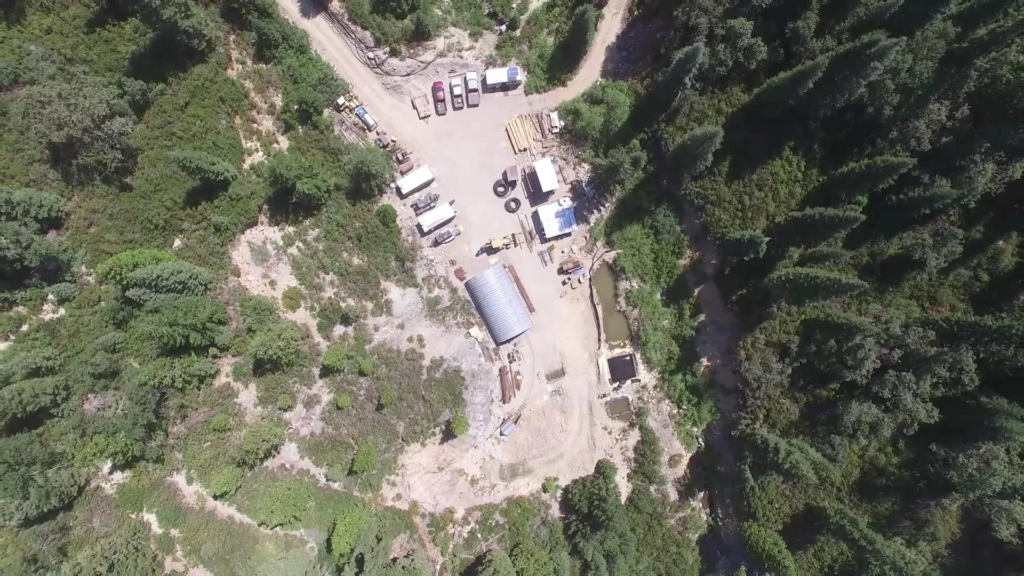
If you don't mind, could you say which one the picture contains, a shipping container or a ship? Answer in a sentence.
This aerial view contains a shipping container.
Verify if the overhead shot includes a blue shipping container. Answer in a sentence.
No, the picture doesn't show any blue shipping container.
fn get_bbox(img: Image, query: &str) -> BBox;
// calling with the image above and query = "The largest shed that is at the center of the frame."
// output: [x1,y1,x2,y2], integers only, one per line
[465,265,534,344]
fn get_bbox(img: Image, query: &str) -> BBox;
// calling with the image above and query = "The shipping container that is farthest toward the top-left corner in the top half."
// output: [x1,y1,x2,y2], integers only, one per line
[397,165,436,197]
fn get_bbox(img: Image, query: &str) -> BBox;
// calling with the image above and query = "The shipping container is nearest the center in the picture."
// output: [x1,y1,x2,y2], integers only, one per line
[418,197,462,234]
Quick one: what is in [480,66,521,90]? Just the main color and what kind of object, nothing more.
white vehicle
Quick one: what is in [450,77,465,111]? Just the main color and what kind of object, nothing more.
white vehicle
